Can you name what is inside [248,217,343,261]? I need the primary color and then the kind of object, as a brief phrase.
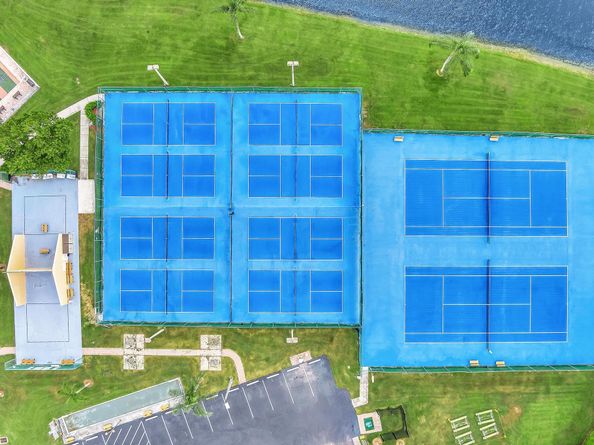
blue sports court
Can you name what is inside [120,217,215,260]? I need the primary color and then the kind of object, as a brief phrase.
blue sports court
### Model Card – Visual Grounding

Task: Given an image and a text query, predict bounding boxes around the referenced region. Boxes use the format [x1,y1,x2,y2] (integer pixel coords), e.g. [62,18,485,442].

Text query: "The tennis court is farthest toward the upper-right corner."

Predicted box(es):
[404,160,567,236]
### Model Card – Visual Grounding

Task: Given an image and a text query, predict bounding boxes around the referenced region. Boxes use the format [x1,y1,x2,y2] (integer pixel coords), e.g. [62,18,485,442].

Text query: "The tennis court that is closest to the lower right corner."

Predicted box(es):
[404,266,568,343]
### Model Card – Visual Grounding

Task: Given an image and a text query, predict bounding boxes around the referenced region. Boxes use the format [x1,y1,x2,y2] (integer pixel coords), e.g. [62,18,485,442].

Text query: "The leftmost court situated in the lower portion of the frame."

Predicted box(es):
[3,178,82,365]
